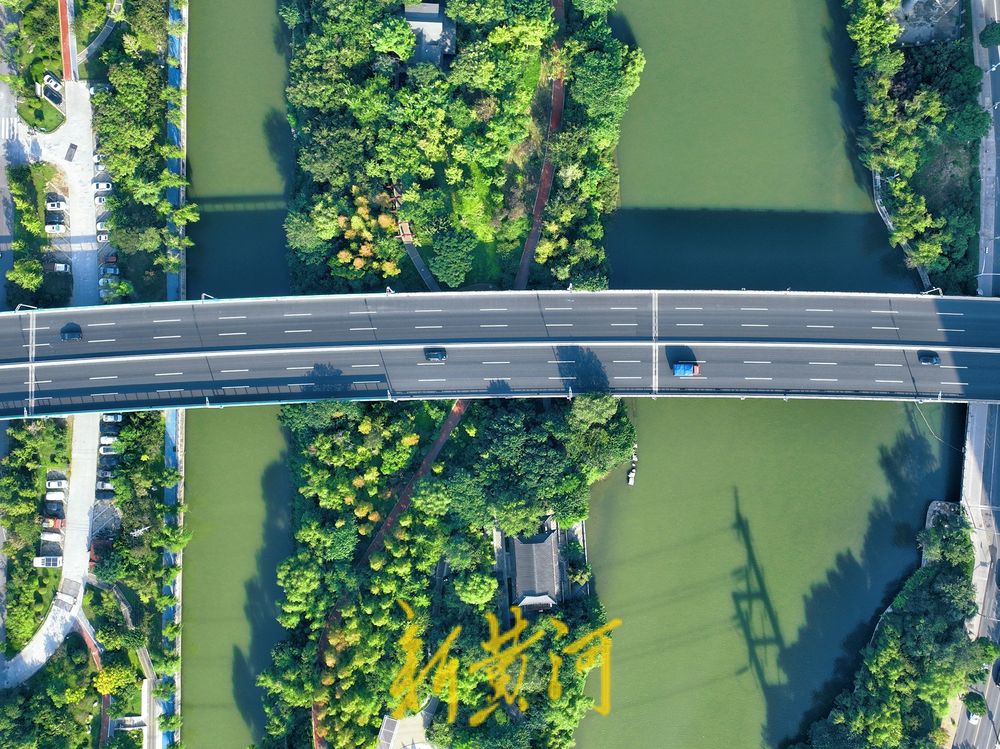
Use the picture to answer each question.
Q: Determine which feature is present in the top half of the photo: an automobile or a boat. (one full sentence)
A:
Looking in the top half of the photo, you will find an automobile.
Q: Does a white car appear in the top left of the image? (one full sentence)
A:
Yes, in the top left of the image there is a white car.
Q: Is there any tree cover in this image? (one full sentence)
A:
Yes, there's tree cover in this view.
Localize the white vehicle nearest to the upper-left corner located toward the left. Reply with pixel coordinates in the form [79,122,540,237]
[43,72,62,90]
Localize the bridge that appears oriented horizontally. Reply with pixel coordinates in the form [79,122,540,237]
[0,291,1000,420]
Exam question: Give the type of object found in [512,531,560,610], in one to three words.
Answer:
building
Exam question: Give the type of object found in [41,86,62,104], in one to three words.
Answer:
car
